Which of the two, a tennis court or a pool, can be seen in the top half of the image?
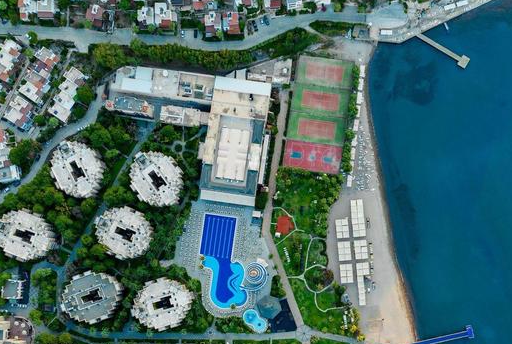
tennis court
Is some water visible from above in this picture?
Yes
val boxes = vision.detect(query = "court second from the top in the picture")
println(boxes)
[291,83,350,117]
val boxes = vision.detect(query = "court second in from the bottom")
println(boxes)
[286,110,349,145]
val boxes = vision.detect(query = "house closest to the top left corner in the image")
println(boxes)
[17,0,40,23]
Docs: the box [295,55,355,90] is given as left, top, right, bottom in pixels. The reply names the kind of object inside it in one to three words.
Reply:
tennis court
